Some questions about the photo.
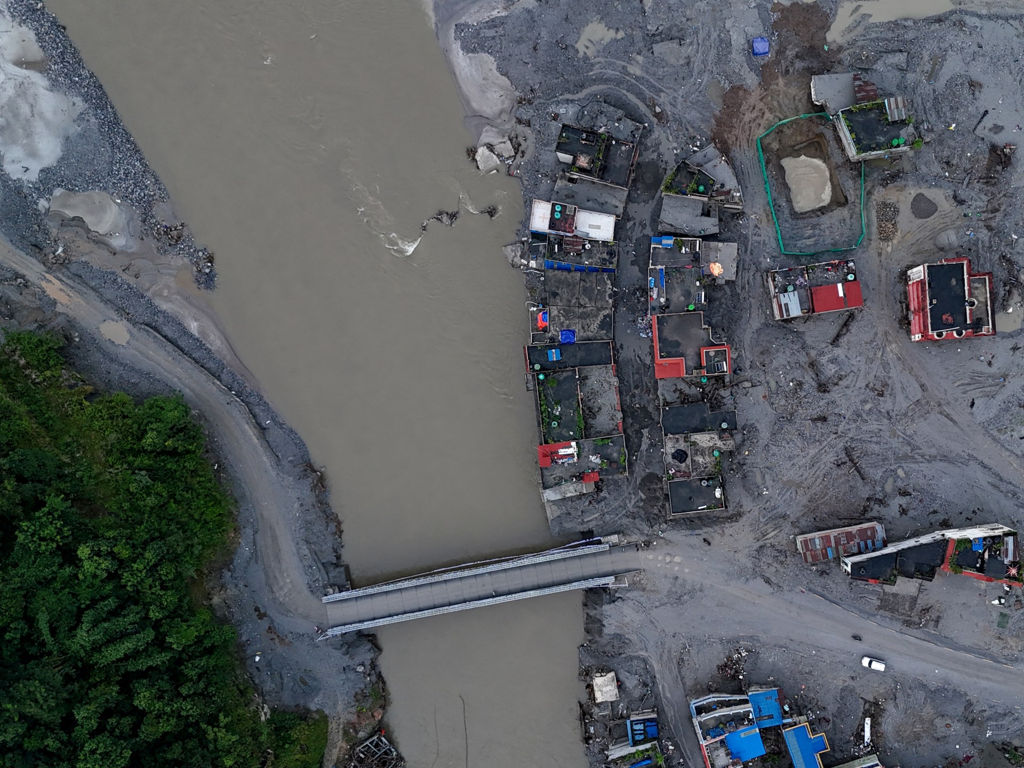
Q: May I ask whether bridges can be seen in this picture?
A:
Yes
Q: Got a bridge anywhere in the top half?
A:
No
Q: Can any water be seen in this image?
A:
Yes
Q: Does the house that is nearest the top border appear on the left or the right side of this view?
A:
right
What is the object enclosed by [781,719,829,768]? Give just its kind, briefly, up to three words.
house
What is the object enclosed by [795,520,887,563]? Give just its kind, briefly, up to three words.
shed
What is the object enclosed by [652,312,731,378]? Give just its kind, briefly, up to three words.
house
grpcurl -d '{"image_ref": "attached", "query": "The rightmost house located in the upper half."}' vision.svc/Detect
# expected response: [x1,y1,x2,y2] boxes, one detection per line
[907,257,996,342]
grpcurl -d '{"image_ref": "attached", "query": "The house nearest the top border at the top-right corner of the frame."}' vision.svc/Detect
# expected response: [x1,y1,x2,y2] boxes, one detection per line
[806,73,878,120]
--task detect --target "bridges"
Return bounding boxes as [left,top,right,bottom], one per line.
[320,540,644,643]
